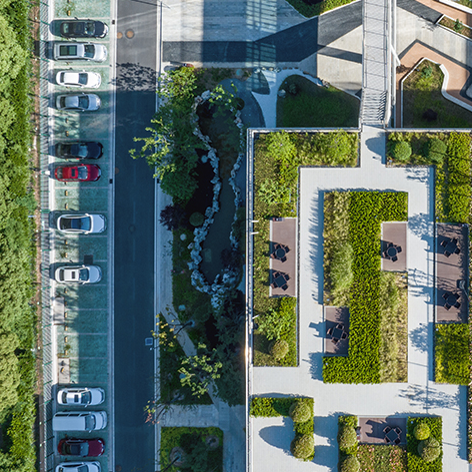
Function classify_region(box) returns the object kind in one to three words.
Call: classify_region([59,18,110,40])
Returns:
car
